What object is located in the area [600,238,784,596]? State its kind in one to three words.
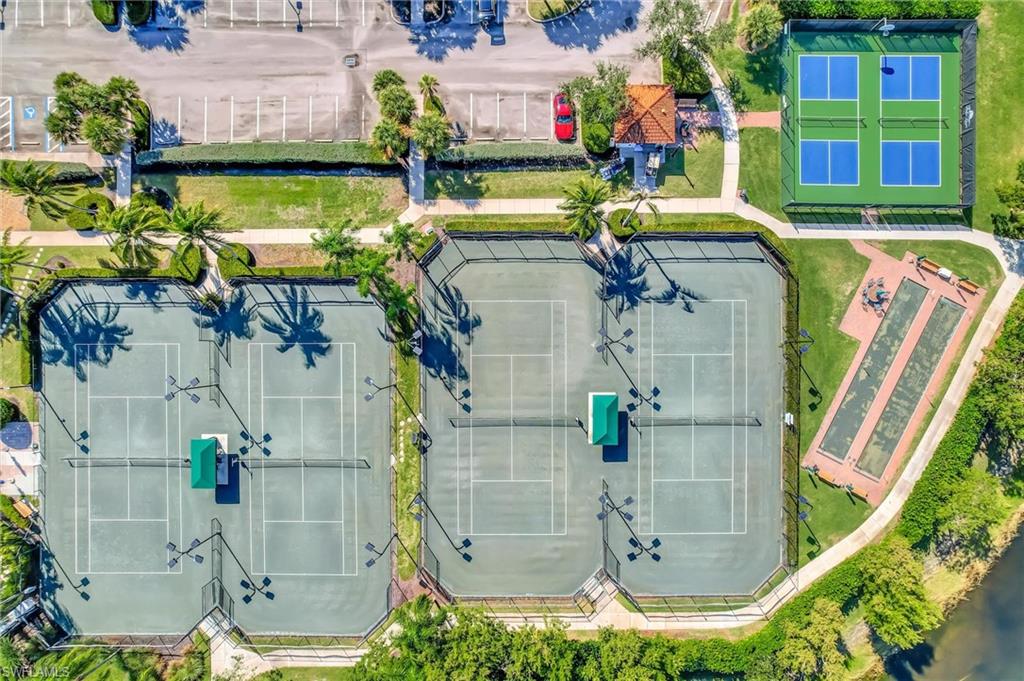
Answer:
tennis court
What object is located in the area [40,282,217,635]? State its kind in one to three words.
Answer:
tennis court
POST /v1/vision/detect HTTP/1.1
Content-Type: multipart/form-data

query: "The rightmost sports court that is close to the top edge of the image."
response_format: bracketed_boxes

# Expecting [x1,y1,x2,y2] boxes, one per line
[870,33,961,210]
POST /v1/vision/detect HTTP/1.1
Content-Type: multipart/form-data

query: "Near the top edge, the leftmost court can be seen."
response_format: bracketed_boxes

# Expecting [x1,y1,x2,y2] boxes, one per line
[781,33,870,210]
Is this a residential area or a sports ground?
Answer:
sports ground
